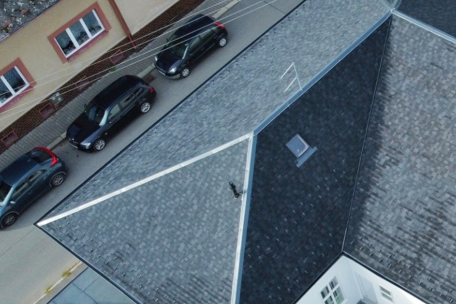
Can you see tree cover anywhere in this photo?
No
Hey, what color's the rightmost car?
black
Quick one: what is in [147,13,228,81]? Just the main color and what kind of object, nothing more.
black car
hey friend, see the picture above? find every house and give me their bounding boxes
[0,0,200,150]
[32,0,456,304]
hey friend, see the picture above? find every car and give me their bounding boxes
[147,13,228,81]
[0,147,66,230]
[54,69,157,155]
